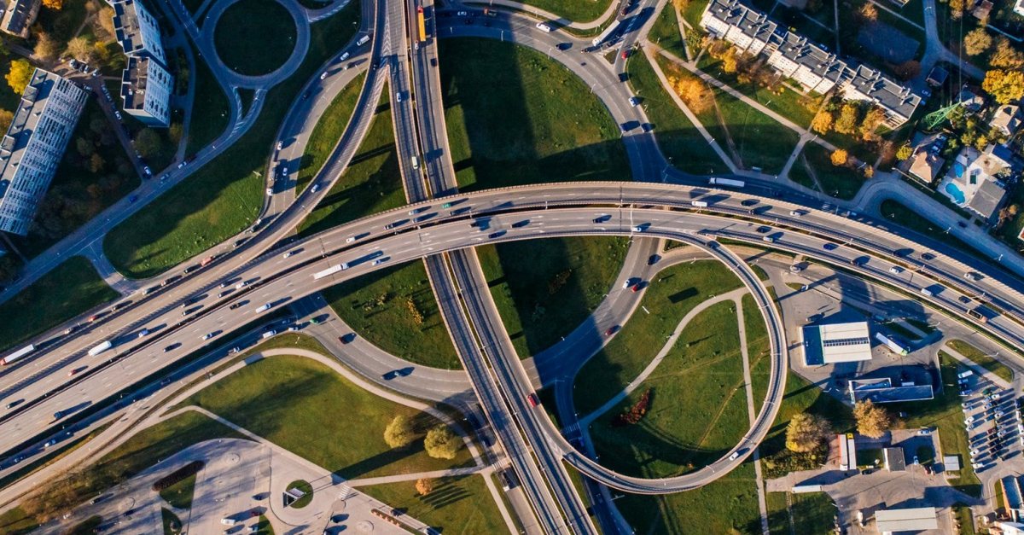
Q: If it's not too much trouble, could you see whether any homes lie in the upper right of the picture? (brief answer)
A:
Yes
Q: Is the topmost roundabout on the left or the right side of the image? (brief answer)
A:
left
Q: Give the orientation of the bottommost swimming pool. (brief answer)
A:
at an angle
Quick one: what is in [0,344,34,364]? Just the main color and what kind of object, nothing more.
white vehicle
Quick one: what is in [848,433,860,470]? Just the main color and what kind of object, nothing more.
white vehicle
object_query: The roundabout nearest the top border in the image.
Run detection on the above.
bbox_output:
[200,0,311,88]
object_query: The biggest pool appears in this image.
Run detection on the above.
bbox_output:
[946,182,966,204]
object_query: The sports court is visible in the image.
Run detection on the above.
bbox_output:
[858,20,919,61]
